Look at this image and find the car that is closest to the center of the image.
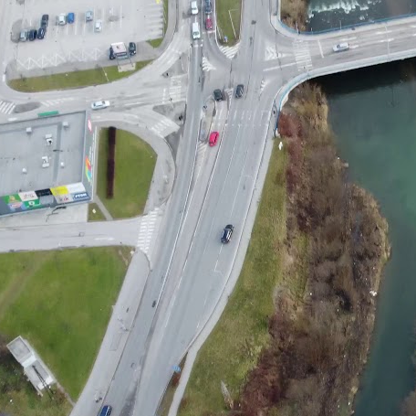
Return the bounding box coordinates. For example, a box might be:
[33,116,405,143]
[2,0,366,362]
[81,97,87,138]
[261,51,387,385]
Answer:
[222,225,234,243]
